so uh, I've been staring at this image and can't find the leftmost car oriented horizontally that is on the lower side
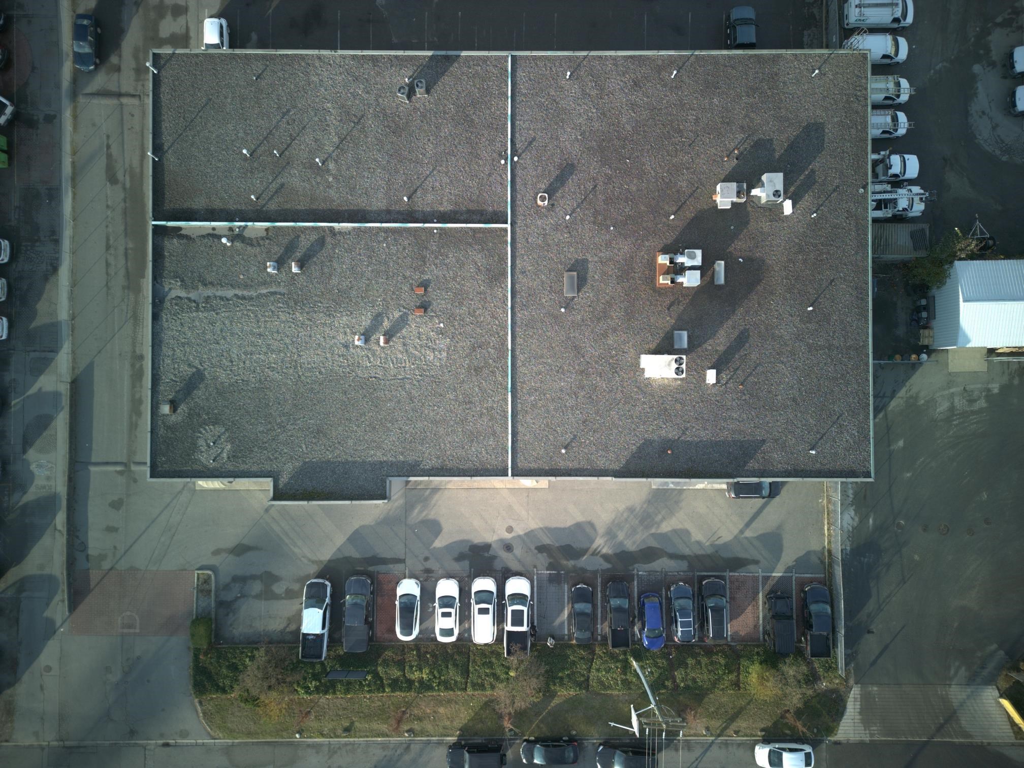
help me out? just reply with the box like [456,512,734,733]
[445,739,505,768]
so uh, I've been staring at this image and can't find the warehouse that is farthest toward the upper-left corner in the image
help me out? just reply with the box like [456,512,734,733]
[148,49,874,504]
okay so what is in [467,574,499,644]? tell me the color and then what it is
white car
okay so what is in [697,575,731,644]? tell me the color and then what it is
black car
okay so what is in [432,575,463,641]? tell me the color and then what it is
white car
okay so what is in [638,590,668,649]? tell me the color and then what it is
blue car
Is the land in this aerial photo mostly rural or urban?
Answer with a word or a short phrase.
urban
